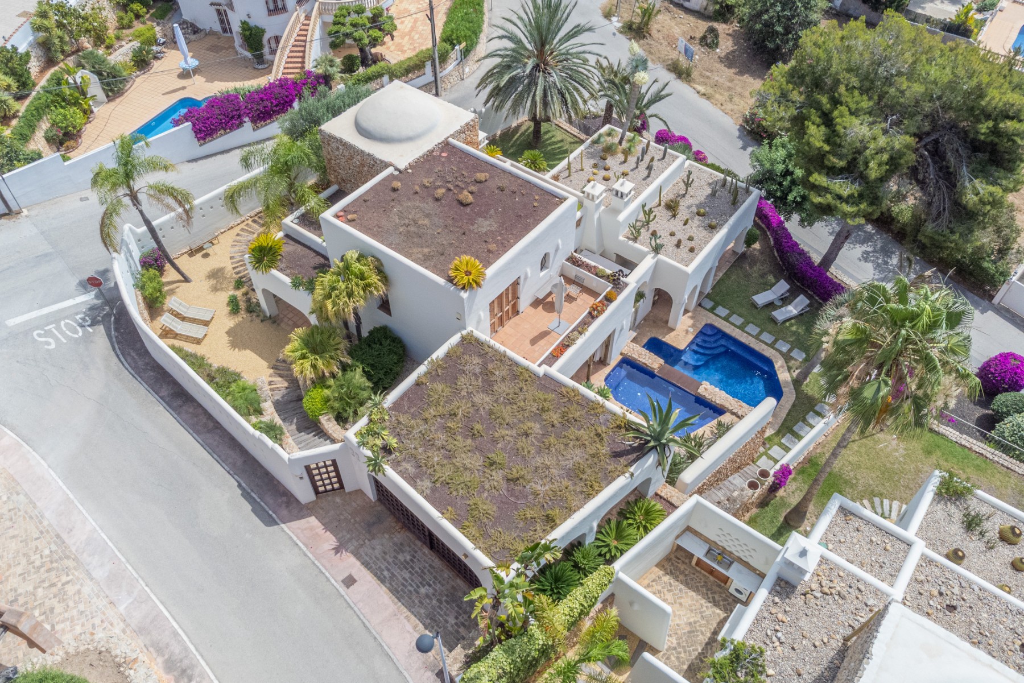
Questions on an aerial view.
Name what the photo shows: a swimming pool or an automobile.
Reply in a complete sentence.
I can see a swimming pool in this picture.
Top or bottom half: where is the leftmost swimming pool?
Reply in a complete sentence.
It is in the top half that the leftmost swimming pool appears.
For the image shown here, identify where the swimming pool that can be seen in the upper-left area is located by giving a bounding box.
[127,96,233,140]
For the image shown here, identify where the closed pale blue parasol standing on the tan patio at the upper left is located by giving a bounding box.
[174,23,195,83]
